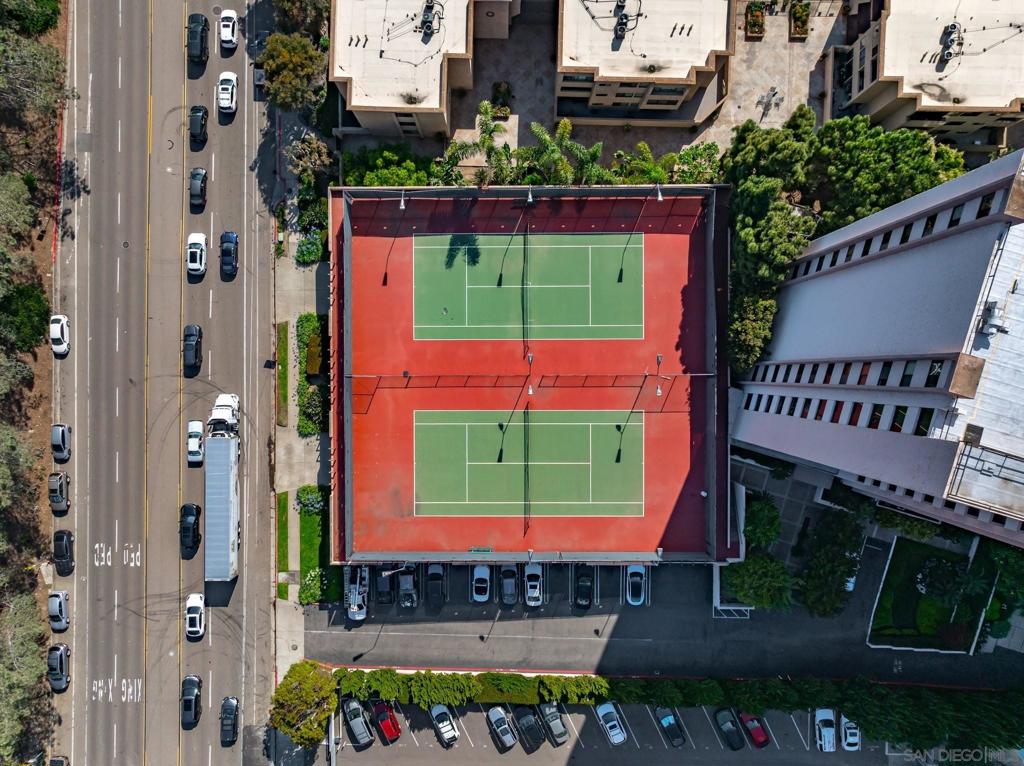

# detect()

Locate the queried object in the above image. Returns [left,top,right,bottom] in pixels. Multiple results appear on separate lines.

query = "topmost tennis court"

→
[414,234,643,340]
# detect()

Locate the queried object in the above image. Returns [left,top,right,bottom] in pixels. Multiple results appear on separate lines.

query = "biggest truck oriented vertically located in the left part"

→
[206,391,244,581]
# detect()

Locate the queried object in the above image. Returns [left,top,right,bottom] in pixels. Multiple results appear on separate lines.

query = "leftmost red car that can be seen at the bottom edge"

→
[374,701,402,742]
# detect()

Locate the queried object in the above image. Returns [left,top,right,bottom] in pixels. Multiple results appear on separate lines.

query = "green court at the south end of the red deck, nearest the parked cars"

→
[414,411,644,517]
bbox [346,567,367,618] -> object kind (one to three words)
vehicle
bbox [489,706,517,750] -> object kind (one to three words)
car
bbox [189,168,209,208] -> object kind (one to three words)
car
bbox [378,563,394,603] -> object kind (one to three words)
vehicle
